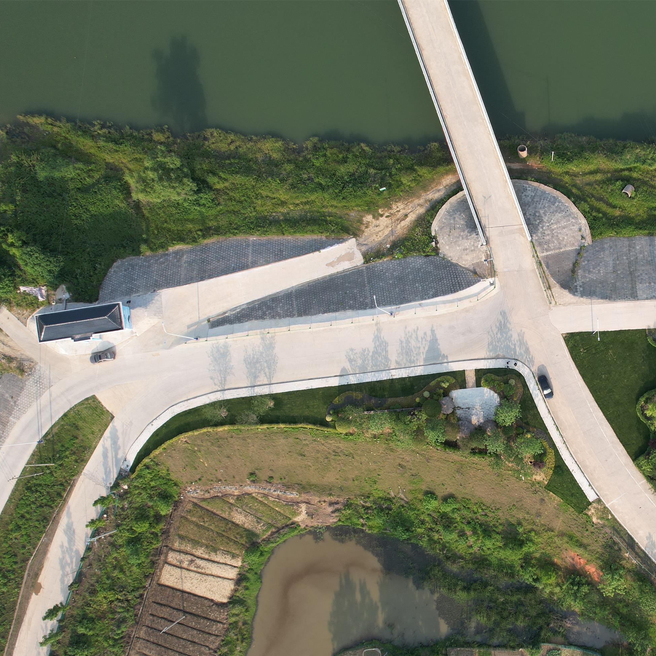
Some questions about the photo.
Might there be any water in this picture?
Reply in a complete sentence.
Yes, the picture does contain water.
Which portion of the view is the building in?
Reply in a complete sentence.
The building appears toward the left of the photo.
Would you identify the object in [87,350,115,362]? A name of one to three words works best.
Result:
vehicle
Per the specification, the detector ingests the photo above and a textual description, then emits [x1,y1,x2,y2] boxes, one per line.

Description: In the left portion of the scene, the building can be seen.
[35,302,134,344]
